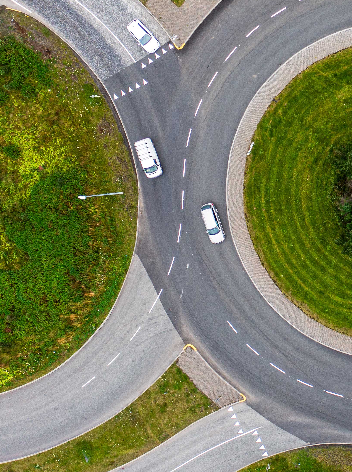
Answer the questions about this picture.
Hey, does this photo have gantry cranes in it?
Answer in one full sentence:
No, there is no gantry crane in the image.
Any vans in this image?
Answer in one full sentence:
Yes, a van is visible in the scene.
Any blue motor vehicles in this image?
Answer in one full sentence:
No, there is no blue motor vehicle in the image.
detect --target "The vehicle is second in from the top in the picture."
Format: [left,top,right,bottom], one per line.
[133,137,162,181]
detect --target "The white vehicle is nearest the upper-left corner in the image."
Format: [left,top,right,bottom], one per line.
[126,17,161,54]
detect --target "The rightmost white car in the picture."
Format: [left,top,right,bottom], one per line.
[199,202,225,245]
